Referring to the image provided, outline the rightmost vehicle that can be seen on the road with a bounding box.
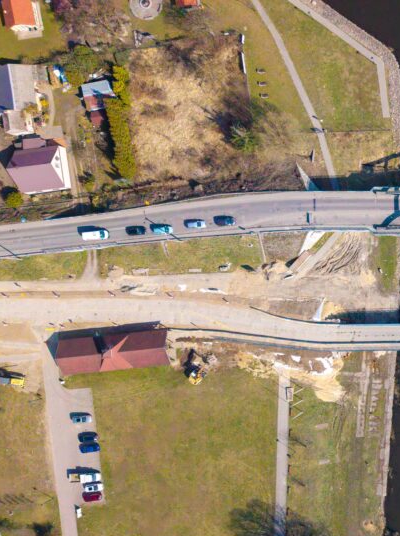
[214,215,237,227]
